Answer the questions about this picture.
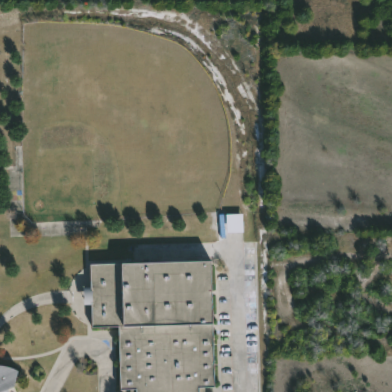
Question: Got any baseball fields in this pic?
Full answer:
Yes, a baseball field appears in the view.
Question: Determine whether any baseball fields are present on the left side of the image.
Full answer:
Yes, the scene does show a baseball field on the left side of the image.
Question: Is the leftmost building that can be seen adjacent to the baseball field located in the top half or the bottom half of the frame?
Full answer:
The leftmost building that can be seen adjacent to the baseball field sits in the bottom half of the picture.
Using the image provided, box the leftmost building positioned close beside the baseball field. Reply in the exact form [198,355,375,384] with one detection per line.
[84,261,214,392]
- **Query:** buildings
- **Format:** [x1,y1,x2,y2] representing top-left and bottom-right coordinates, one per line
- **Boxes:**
[84,261,214,392]
[219,213,244,238]
[0,366,18,392]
